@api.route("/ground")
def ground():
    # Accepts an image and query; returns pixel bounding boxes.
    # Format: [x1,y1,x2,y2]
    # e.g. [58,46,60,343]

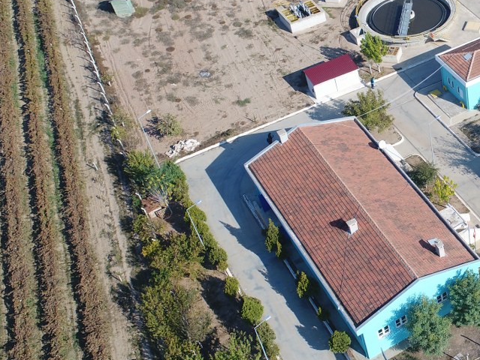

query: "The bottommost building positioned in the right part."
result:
[243,116,480,355]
